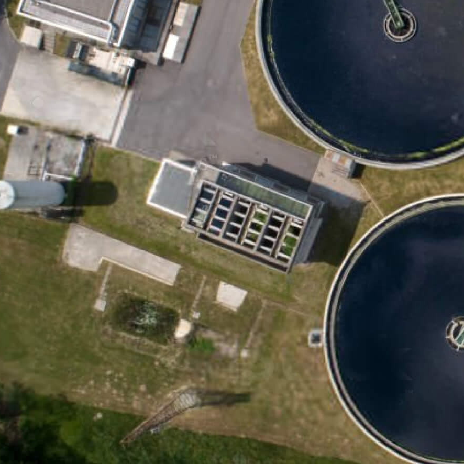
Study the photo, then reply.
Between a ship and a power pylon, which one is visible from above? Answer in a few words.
power pylon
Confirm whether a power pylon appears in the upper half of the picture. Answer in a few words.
No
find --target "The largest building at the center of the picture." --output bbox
[183,160,329,273]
